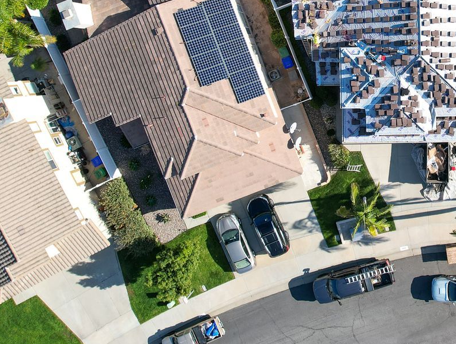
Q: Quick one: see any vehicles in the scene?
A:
Yes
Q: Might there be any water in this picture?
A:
No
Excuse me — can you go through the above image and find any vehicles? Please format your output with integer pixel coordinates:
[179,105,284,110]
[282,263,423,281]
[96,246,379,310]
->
[162,312,230,344]
[431,273,456,307]
[216,210,256,274]
[312,256,399,302]
[250,193,290,259]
